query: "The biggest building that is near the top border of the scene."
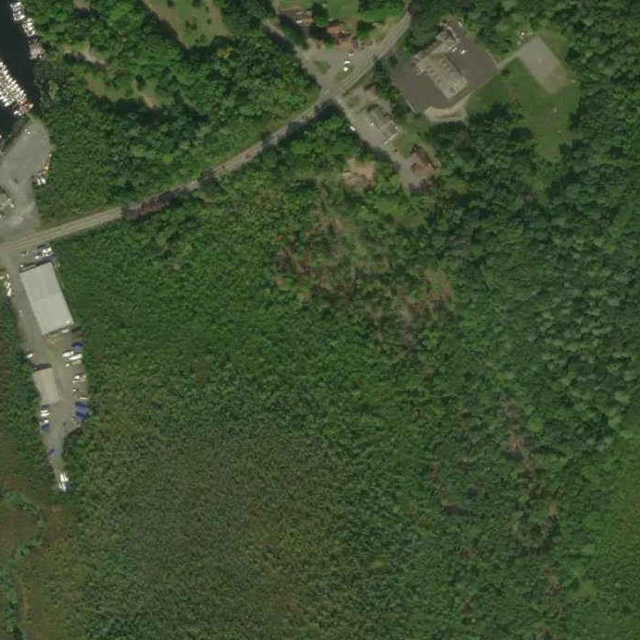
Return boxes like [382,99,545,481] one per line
[414,25,466,99]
